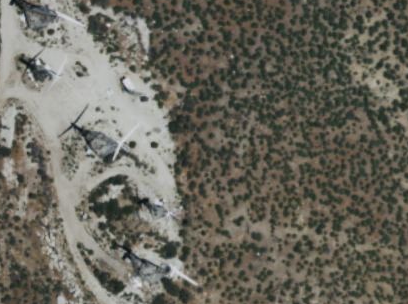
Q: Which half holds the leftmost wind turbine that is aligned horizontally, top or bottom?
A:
top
